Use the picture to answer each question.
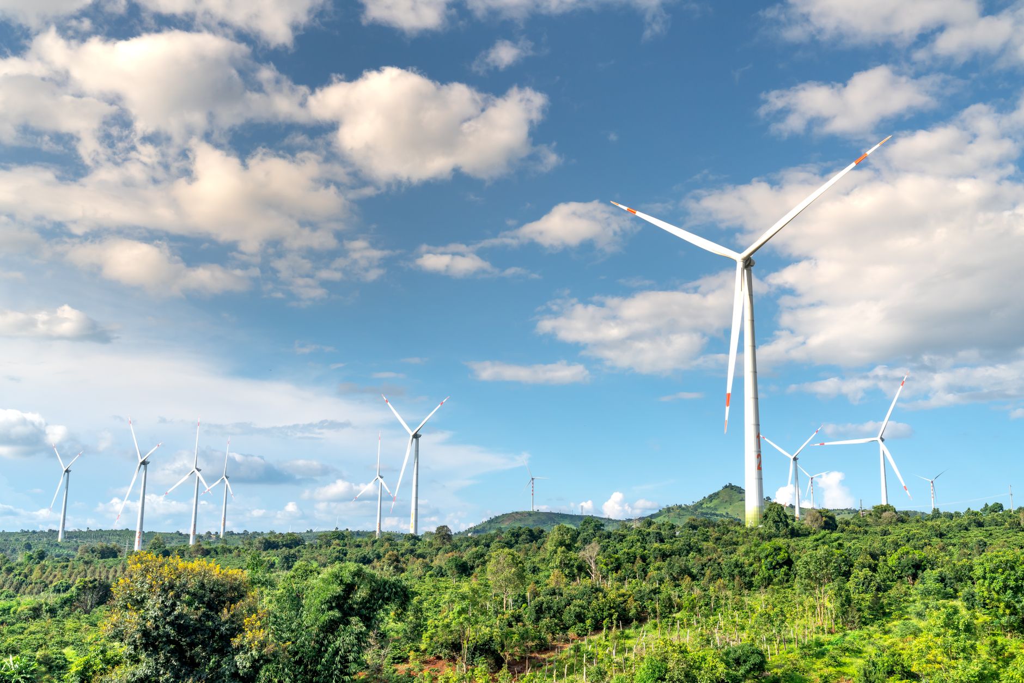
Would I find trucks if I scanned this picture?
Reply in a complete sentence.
No, I can't see a single truck in this photo.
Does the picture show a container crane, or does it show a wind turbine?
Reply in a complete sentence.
There is a wind turbine in the scene.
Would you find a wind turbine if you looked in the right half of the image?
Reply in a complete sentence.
Yes, the scene does show a wind turbine in the right half of the image.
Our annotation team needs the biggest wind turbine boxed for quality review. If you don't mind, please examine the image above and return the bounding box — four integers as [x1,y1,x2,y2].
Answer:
[611,136,890,523]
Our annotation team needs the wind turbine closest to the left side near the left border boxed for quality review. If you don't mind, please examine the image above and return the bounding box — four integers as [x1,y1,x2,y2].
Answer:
[49,447,83,545]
